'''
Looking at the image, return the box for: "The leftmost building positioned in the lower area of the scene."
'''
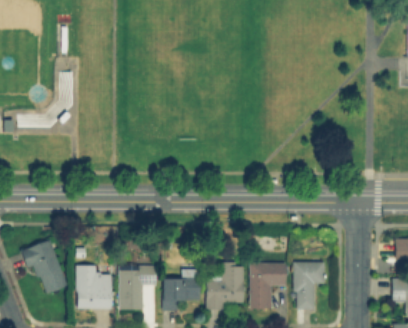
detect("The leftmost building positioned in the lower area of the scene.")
[21,242,67,292]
